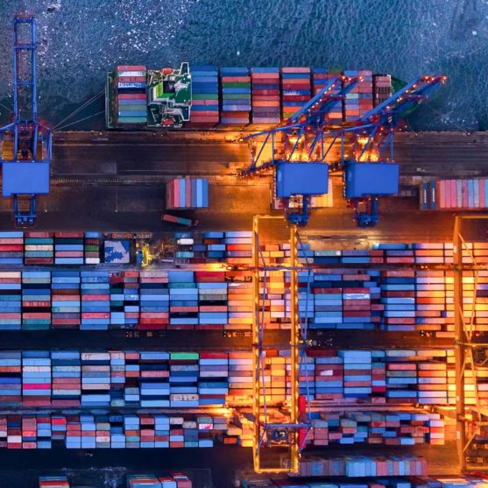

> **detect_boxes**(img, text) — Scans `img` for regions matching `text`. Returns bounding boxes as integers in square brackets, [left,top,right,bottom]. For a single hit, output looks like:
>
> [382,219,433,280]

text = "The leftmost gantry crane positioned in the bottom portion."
[229,217,314,475]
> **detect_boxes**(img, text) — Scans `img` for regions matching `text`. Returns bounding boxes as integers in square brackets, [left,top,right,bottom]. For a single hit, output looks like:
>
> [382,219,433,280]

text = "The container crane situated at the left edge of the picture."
[0,17,52,235]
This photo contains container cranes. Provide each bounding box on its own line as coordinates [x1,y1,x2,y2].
[229,217,314,475]
[300,75,447,235]
[0,17,52,235]
[421,217,488,475]
[233,75,366,235]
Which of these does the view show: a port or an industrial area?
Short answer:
port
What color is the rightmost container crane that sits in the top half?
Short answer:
blue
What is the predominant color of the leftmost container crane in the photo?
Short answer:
blue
